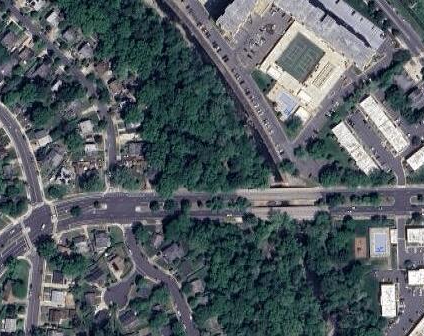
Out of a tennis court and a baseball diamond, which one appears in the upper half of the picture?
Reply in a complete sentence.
There is a tennis court in the upper half of the picture.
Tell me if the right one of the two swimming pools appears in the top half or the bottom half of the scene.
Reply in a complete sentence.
The right one of the two swimming pools sits in the bottom half of the picture.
